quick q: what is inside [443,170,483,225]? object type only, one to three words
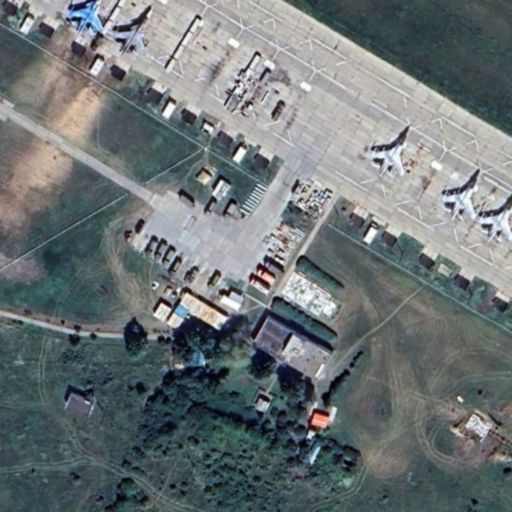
airplane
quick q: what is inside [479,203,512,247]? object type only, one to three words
airplane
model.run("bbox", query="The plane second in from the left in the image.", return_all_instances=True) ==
[113,9,153,63]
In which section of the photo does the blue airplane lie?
top left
